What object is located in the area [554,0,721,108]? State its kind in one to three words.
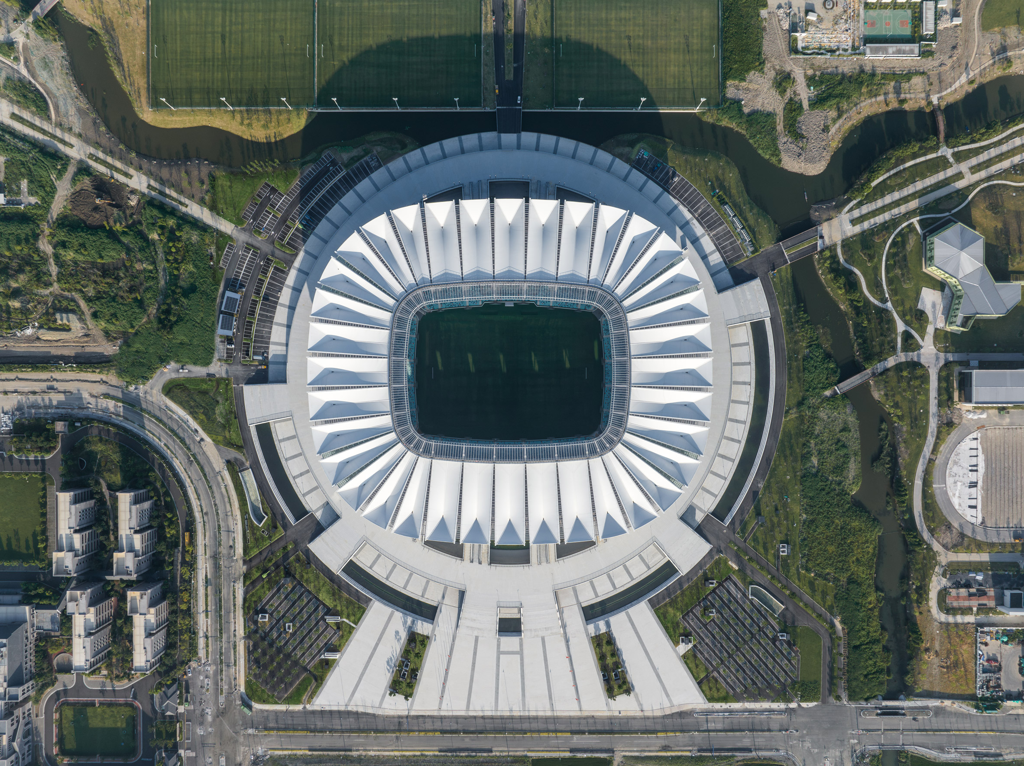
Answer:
sports field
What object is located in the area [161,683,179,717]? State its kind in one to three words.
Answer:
building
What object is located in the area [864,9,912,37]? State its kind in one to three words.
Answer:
basketball court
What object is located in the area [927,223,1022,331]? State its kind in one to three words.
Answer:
building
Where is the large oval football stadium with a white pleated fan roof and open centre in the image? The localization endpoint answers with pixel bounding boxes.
[304,195,715,548]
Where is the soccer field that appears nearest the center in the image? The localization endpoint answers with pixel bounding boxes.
[415,303,604,440]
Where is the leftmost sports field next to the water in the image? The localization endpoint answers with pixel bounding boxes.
[150,0,314,108]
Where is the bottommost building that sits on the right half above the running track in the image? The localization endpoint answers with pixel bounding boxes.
[955,370,1024,405]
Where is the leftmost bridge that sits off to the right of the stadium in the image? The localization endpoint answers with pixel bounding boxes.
[781,225,819,263]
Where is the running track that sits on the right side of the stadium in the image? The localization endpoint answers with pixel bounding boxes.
[934,414,1024,544]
